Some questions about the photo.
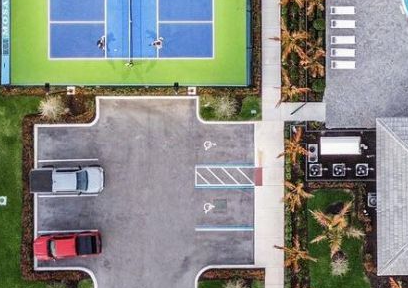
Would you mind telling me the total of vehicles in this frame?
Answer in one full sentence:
The count of vehicles comes to 2.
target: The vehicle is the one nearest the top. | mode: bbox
[30,166,105,197]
